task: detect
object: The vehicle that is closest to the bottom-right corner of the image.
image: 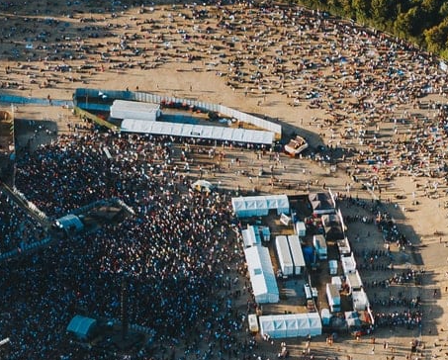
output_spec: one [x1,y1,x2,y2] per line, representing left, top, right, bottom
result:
[326,282,341,316]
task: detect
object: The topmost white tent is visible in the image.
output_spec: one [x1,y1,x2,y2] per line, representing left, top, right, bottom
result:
[122,120,273,156]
